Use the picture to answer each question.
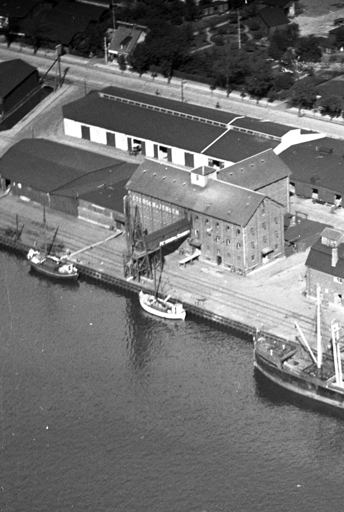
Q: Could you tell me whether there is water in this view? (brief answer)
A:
Yes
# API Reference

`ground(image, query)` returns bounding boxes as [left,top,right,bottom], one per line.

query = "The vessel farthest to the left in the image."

[26,215,83,283]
